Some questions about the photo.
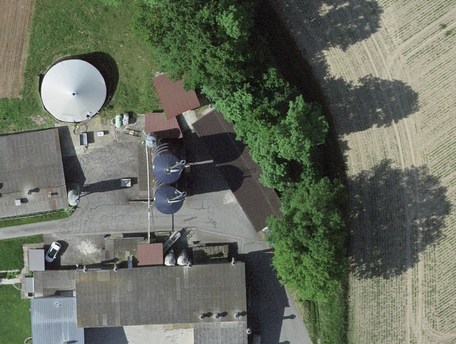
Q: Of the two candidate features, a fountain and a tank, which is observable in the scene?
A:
tank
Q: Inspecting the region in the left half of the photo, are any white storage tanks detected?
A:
Yes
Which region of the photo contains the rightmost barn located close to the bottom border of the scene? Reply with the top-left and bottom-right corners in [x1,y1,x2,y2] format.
[76,254,251,344]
